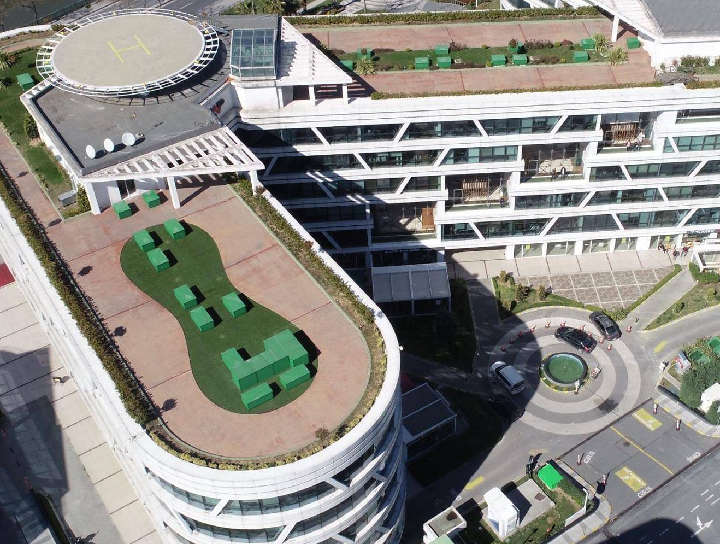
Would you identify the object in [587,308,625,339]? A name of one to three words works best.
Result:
car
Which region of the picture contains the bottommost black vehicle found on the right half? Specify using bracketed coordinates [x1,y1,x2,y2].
[481,388,528,422]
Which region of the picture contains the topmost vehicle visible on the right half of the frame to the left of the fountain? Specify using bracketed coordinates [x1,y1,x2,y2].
[490,357,527,392]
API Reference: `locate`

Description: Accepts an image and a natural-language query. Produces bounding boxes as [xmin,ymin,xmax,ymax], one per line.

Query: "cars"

[587,308,625,339]
[481,388,528,422]
[490,357,527,392]
[553,324,598,352]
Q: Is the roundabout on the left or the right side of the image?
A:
right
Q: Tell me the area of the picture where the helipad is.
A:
top left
